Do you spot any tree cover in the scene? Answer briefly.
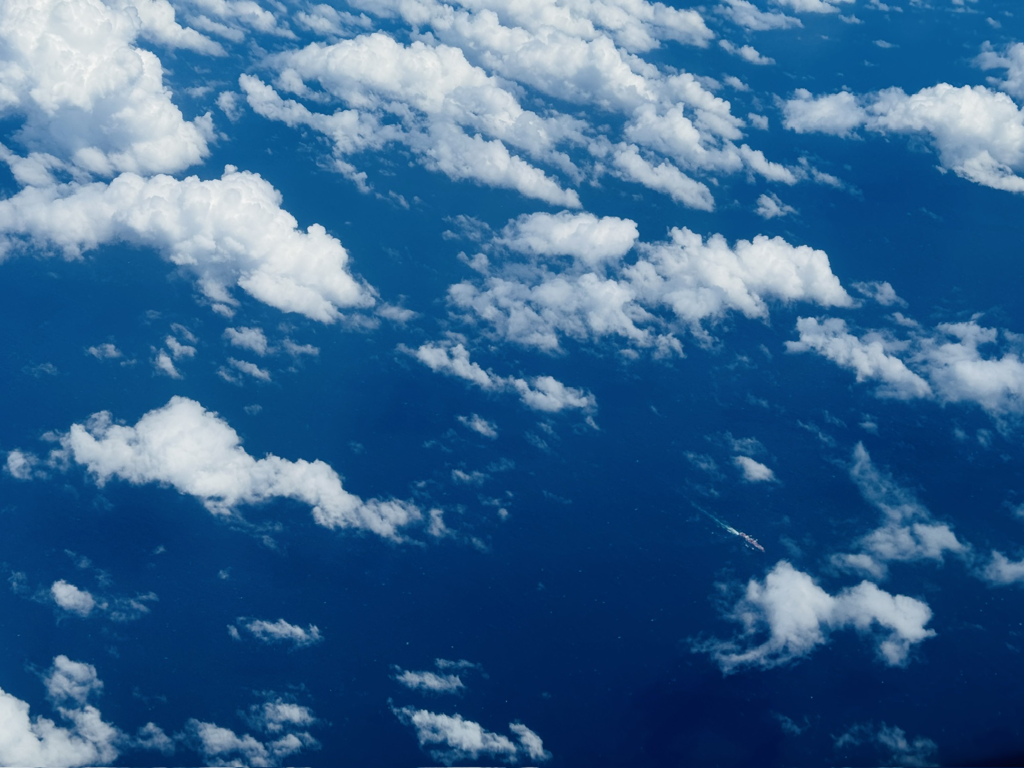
No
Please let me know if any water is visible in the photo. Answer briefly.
Yes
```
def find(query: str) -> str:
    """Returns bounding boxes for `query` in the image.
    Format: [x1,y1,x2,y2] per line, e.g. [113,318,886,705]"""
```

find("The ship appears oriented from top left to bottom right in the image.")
[739,532,764,551]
